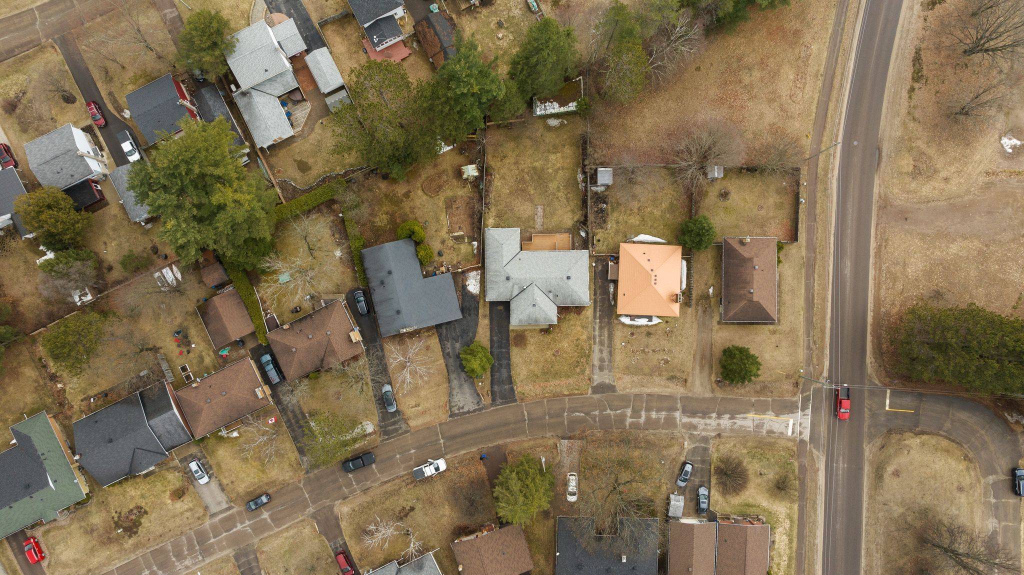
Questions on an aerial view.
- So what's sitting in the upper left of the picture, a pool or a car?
car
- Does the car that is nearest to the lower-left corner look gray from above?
No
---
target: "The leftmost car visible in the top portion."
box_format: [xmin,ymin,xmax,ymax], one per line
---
[0,142,20,168]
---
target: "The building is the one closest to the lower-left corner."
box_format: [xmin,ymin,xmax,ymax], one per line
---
[0,410,93,540]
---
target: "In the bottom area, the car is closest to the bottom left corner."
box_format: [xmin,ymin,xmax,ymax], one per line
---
[25,536,45,564]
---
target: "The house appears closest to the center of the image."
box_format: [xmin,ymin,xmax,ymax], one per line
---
[484,228,590,325]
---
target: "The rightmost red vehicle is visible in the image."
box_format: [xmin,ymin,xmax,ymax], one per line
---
[834,385,852,421]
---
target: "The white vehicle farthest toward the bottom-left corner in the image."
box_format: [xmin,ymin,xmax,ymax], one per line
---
[188,457,211,486]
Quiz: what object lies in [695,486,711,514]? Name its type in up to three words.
car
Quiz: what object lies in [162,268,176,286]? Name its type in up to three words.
boat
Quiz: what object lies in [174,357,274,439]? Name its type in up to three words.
house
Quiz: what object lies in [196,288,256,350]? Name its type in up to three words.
building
